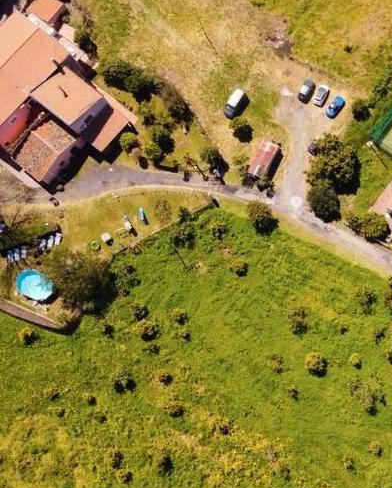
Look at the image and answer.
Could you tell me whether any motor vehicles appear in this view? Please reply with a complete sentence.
Yes, I can see a motor vehicle in this picture.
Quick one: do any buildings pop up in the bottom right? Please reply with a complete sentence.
No, there is no building in the bottom right.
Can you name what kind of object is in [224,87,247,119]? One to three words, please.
vehicle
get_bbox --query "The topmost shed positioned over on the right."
[247,142,279,179]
